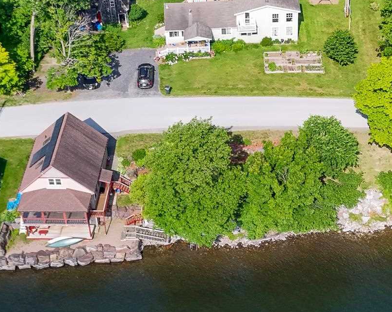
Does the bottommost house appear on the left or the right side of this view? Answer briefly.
left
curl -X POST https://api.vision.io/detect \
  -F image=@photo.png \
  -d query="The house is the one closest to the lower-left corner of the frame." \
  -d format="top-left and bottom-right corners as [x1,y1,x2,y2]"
[15,111,115,246]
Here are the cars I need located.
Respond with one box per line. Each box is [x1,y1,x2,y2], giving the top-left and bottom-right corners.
[136,60,155,86]
[82,61,99,85]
